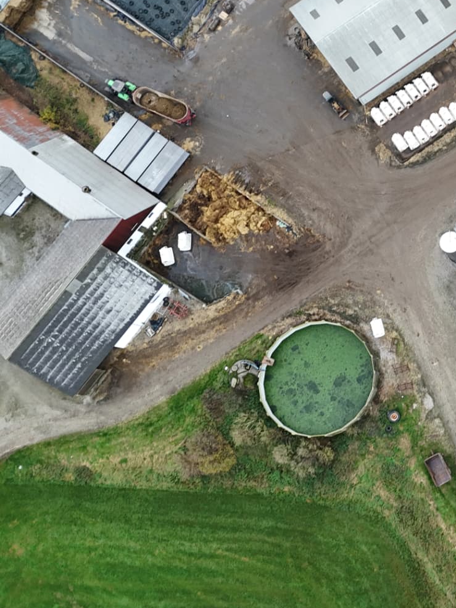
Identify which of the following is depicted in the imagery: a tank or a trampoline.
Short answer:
tank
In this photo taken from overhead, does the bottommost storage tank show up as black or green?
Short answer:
green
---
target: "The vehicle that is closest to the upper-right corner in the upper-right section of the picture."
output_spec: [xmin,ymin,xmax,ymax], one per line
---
[326,94,350,121]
